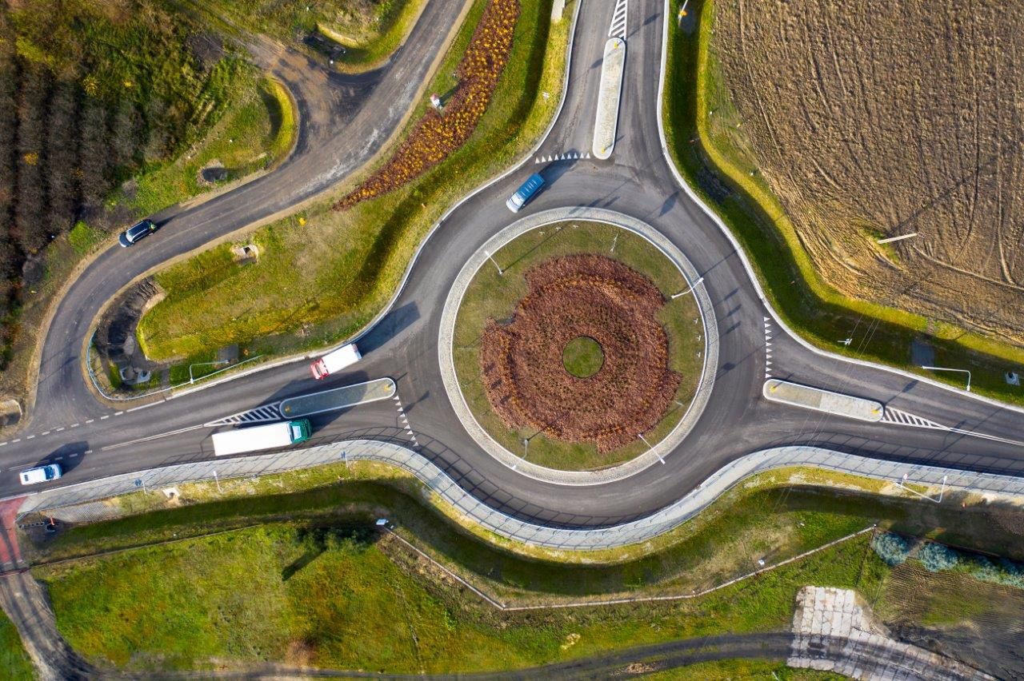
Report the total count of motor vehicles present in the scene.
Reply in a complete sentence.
The count of motor vehicles comes to 5.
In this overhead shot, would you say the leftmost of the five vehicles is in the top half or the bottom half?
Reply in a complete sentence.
The bottom half of the photo is where the leftmost of the five vehicles is.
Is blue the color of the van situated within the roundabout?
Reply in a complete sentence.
Yes, blue is the color of the van situated within the roundabout.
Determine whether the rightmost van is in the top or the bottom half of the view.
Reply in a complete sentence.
Seen from above, the rightmost van lies in the top half of the view.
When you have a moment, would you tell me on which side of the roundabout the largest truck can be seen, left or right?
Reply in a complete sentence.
You can see the largest truck positioned to the left of the roundabout.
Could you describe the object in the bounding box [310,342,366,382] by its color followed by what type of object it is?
white truck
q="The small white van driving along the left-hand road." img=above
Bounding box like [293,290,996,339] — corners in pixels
[16,462,65,486]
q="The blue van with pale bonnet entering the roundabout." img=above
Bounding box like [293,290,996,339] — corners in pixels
[506,171,546,214]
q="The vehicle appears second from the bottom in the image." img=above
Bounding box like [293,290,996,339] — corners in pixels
[212,415,321,457]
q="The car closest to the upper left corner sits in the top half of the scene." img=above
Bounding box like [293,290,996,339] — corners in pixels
[119,216,159,249]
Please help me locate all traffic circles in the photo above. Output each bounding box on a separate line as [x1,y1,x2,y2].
[369,135,790,531]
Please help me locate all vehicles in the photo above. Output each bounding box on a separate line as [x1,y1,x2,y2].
[119,216,159,249]
[212,415,321,457]
[310,342,366,382]
[16,462,65,486]
[506,171,546,214]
